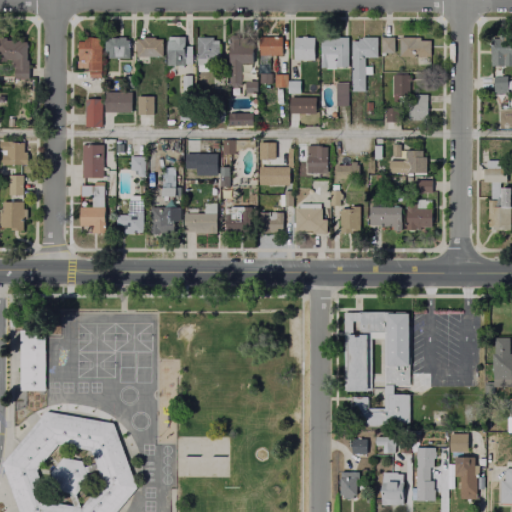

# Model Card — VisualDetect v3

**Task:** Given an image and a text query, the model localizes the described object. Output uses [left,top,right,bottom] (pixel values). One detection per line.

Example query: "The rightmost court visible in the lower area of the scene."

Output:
[178,437,230,478]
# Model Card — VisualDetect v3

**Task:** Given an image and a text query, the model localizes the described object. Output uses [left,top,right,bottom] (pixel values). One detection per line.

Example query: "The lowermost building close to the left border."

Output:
[2,411,137,512]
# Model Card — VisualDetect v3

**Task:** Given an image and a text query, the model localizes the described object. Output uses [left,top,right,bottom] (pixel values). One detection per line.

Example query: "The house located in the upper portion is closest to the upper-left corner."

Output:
[0,38,29,79]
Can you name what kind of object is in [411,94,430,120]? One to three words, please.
house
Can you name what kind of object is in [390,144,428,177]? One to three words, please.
house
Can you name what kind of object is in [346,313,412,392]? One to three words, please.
building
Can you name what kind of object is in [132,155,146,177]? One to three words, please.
building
